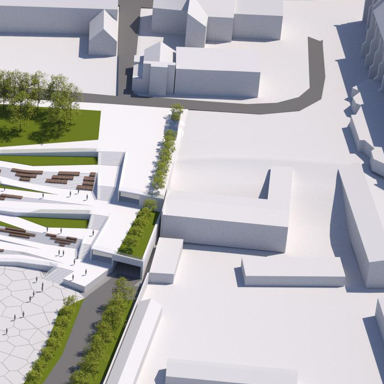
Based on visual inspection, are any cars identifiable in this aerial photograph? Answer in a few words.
No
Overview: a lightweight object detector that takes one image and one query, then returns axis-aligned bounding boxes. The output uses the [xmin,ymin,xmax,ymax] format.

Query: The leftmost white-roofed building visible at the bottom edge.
[106,299,162,384]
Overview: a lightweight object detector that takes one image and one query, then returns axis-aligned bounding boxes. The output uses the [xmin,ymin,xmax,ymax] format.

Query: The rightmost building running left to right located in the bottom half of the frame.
[241,257,345,286]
